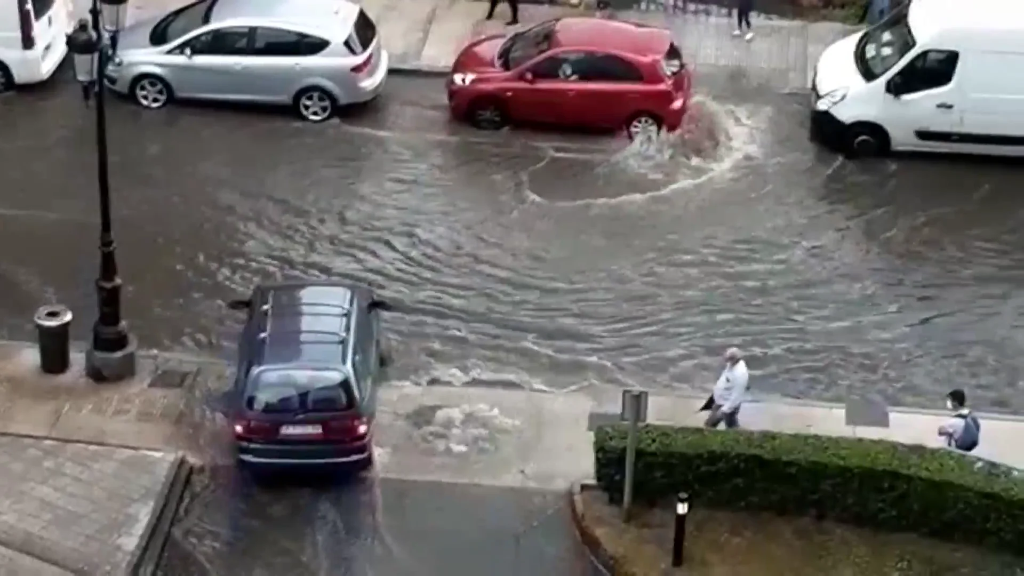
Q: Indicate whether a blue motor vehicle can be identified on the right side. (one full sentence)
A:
No, there is no blue motor vehicle on the right side.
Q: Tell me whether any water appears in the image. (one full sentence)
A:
Yes, water shows up in the scene.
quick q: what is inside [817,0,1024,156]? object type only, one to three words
van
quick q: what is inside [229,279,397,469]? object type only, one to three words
car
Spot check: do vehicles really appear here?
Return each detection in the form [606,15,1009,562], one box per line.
[817,0,1024,156]
[108,0,386,120]
[452,22,687,143]
[0,0,72,89]
[229,279,397,469]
